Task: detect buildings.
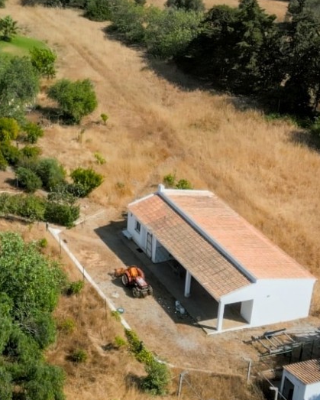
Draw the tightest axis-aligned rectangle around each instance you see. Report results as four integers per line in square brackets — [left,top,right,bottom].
[118,180,316,334]
[281,351,320,400]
